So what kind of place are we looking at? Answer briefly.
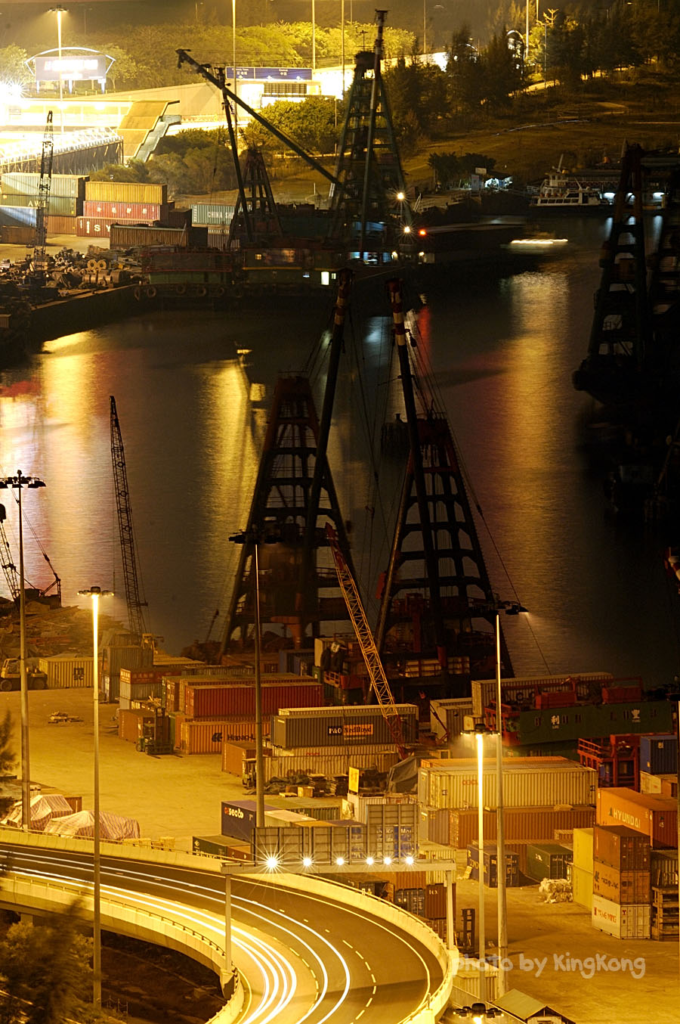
port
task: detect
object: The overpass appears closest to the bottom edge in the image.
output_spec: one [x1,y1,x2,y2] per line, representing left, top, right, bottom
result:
[0,900,234,1005]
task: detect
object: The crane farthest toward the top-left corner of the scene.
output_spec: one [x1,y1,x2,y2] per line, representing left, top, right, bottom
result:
[19,110,56,266]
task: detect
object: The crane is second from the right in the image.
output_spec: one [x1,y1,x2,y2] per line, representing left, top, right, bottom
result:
[107,391,166,621]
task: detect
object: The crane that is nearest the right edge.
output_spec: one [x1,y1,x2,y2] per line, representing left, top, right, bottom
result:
[322,519,446,747]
